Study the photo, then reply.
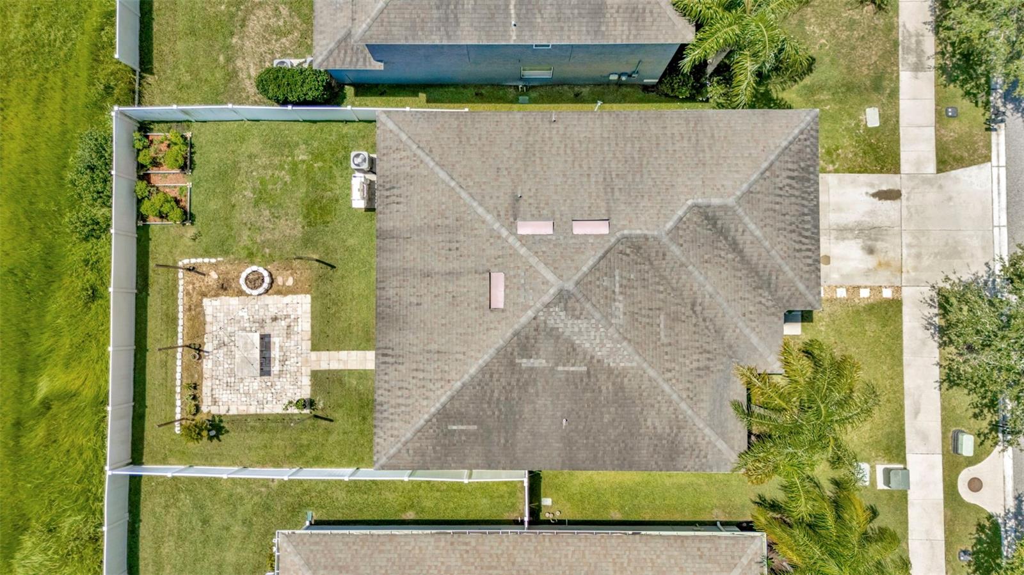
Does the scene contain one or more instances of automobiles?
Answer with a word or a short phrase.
No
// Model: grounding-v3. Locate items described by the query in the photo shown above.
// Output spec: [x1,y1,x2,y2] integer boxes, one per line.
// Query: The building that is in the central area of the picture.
[372,98,823,474]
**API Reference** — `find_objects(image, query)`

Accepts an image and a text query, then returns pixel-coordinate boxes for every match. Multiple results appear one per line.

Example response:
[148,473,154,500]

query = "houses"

[372,98,823,474]
[311,0,697,84]
[271,512,766,575]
